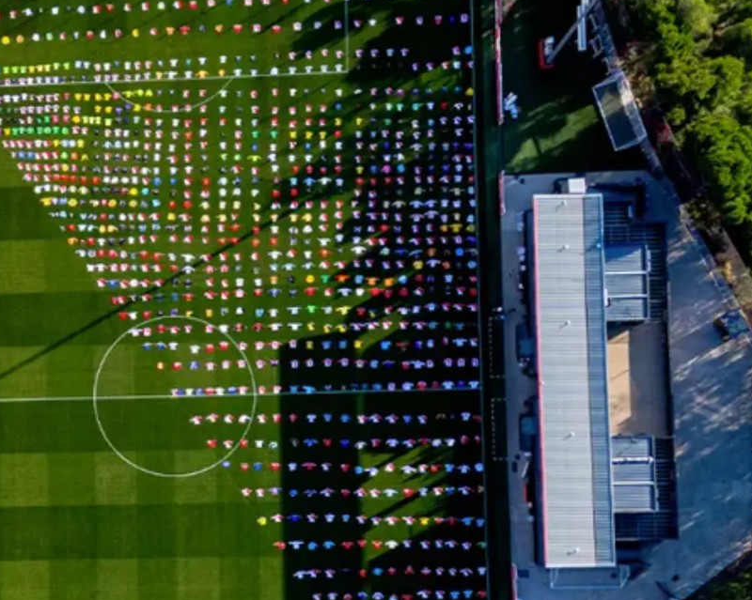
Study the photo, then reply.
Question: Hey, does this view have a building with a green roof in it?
No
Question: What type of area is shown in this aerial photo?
sports ground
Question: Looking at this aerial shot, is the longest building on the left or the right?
right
